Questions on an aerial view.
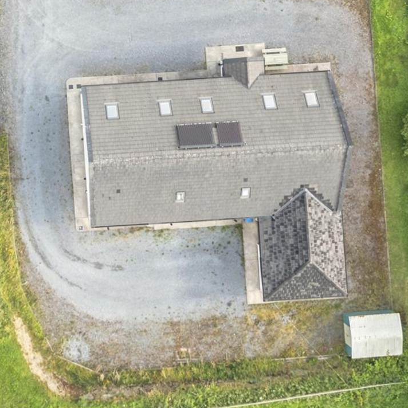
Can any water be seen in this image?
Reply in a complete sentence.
No, the picture contains no water.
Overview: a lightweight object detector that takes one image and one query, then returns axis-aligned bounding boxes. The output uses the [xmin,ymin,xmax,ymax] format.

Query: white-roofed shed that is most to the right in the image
[341,309,405,358]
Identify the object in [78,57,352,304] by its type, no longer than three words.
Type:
house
